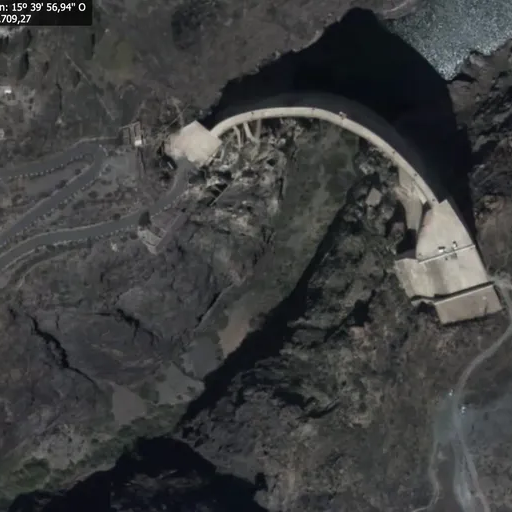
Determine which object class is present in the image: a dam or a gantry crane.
dam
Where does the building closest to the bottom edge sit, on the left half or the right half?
right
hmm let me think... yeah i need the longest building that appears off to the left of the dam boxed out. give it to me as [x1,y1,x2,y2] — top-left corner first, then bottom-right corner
[138,209,189,252]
